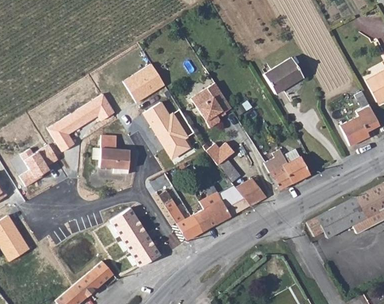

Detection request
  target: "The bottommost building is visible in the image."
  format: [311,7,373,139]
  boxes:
[54,262,114,304]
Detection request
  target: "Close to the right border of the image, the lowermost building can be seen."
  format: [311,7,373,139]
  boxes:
[305,182,384,238]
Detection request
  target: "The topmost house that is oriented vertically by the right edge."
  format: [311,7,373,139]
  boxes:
[361,54,384,106]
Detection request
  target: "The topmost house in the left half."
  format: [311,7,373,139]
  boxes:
[122,64,165,103]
